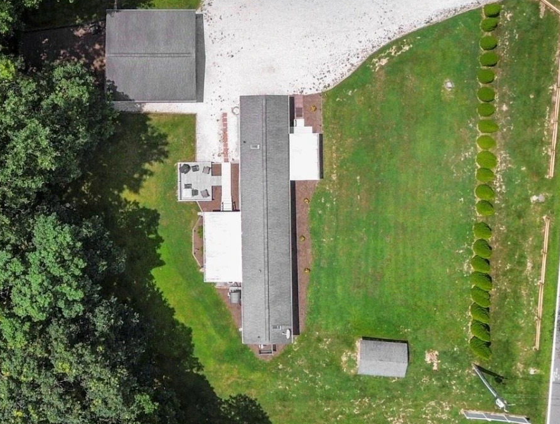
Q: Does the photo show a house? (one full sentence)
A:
Yes, there's a house down there.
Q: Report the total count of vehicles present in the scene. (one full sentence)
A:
The picture shows no vehicles.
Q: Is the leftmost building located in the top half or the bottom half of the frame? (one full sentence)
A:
Seen from above, the leftmost building lies in the top half of the view.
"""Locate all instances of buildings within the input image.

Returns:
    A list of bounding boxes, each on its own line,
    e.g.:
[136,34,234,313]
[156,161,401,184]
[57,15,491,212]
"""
[238,95,293,346]
[103,8,197,103]
[356,335,407,378]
